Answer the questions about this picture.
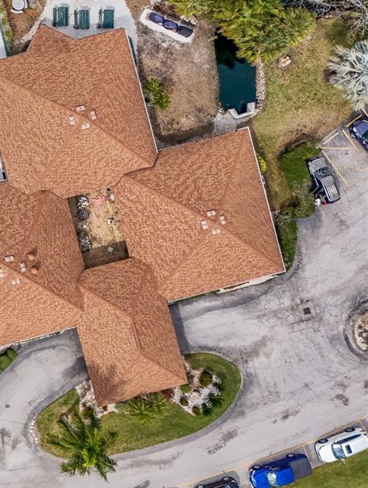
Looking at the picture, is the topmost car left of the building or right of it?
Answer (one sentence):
Relative to the building, the topmost car is on the right.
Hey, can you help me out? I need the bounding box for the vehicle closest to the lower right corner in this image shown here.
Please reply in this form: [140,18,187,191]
[314,426,368,462]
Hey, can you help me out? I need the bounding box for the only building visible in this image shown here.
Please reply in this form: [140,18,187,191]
[0,25,285,406]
